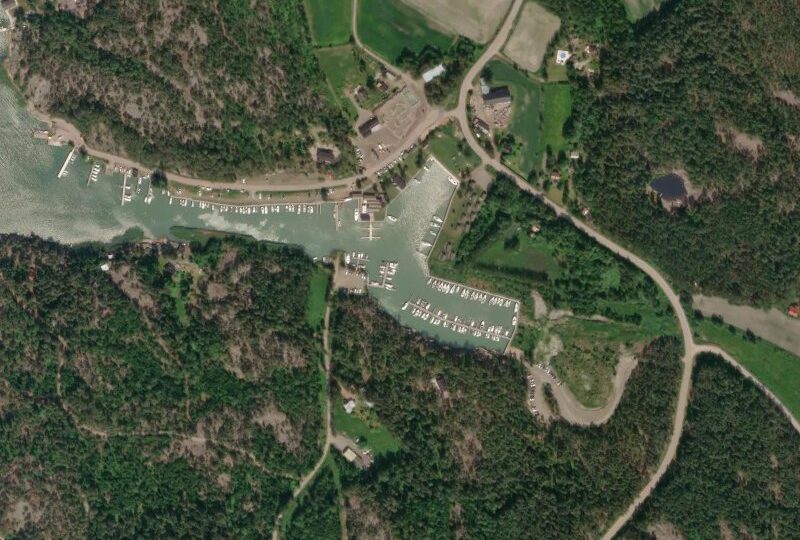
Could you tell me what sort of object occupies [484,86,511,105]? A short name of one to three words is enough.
barn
